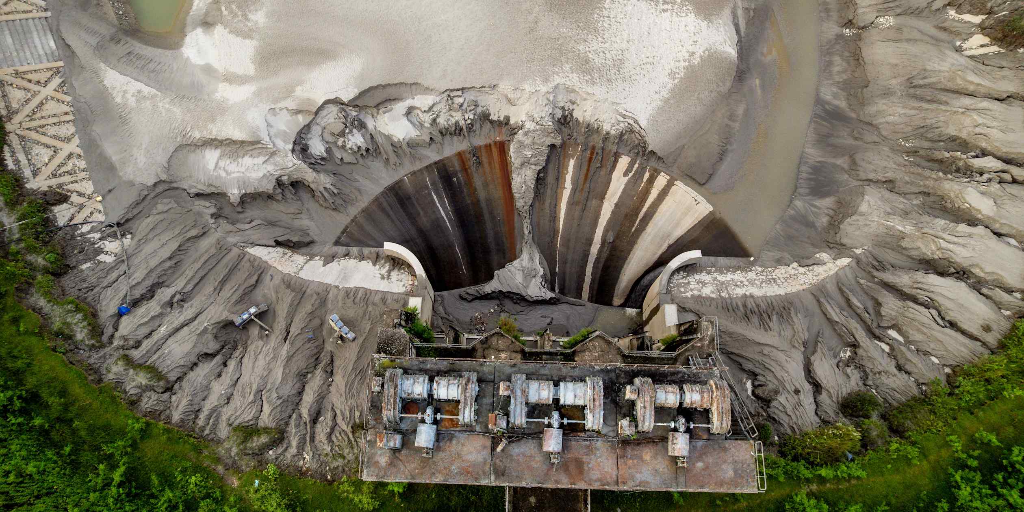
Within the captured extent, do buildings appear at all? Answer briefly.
No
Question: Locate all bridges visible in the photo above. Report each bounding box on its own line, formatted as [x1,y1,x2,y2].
[505,487,591,512]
